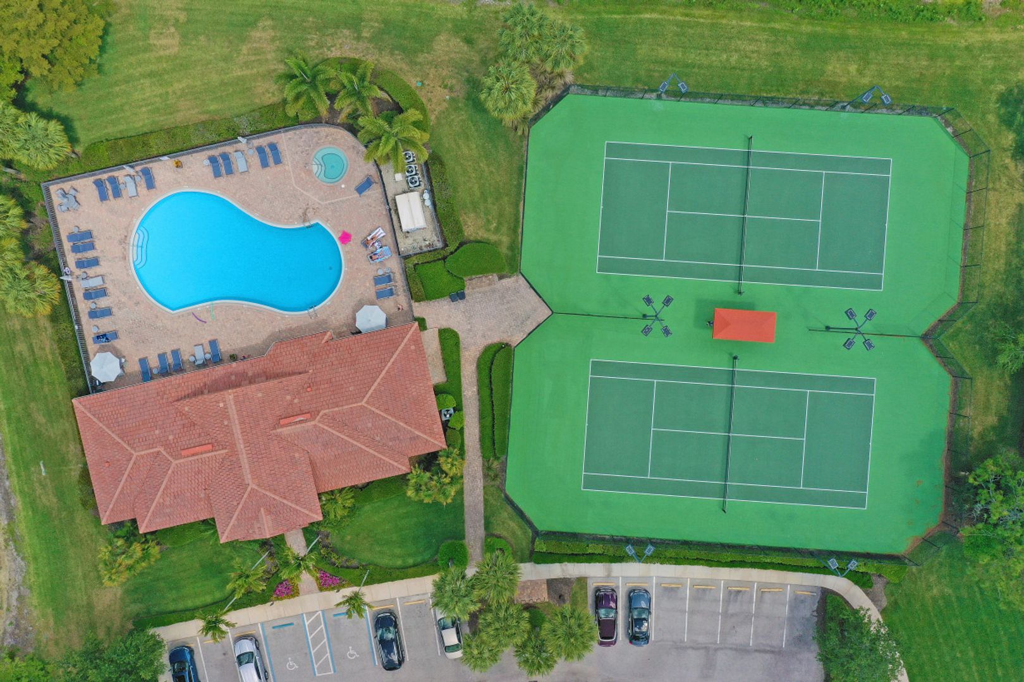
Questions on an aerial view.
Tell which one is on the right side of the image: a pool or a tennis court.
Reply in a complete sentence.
It is a tennis court that can be seen on the right side of the image.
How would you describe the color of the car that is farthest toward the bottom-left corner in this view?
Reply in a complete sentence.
The color of the car that is farthest toward the bottom-left corner is blue.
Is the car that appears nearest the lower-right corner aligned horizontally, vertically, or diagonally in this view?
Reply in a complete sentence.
The car that appears nearest the lower-right corner is oriented vertically.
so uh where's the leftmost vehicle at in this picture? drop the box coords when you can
[172,644,204,682]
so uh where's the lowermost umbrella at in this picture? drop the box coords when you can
[93,352,123,381]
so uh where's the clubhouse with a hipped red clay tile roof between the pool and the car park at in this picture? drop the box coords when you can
[71,321,446,544]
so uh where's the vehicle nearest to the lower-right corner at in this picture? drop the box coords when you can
[627,588,653,646]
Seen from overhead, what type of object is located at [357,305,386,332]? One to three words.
umbrella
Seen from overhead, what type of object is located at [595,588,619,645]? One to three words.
car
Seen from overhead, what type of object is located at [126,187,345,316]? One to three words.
swimming pool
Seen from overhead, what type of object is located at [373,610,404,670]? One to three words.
car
